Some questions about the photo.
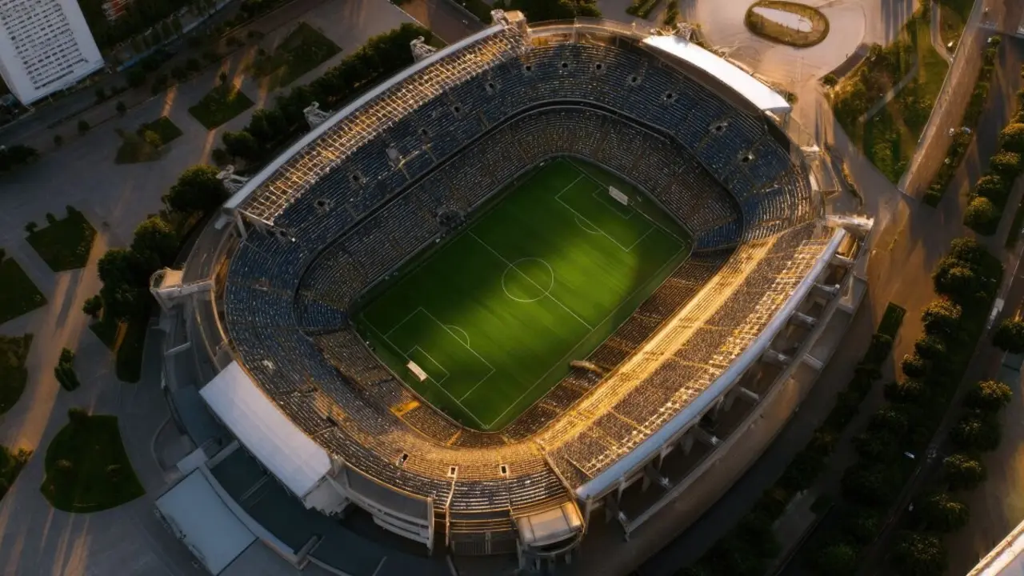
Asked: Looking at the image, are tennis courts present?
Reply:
No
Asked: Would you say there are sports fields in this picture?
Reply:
Yes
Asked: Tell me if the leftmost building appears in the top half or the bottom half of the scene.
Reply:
top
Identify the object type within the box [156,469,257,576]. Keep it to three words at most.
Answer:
building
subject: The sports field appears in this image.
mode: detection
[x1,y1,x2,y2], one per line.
[352,154,694,431]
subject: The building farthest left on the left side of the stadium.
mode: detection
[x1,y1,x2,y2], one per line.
[0,0,102,106]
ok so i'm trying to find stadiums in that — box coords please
[150,7,876,576]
